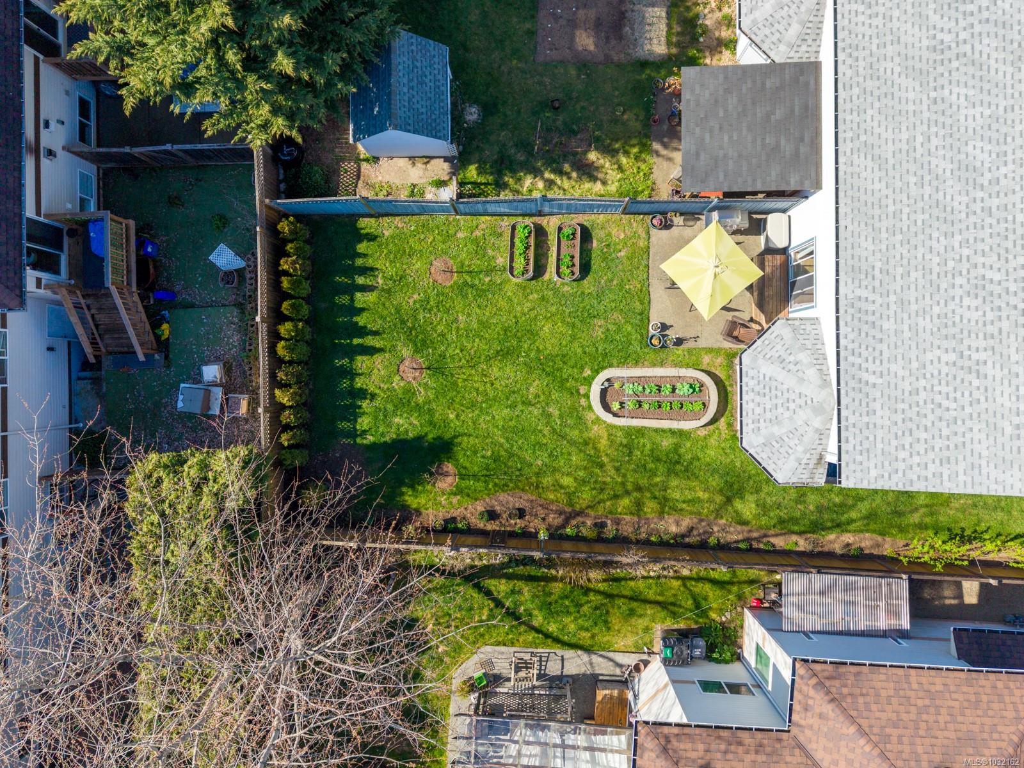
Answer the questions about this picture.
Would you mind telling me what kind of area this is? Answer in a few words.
residential area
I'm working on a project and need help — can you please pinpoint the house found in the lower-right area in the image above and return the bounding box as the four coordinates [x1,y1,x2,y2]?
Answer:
[627,608,1024,768]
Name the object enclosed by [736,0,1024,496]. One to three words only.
house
